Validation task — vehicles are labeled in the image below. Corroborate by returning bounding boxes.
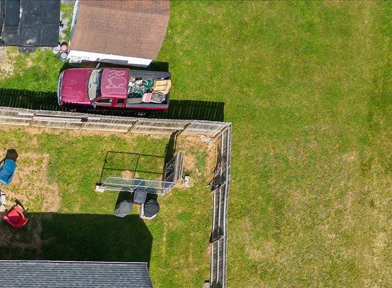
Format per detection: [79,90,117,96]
[0,0,60,56]
[56,59,170,114]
